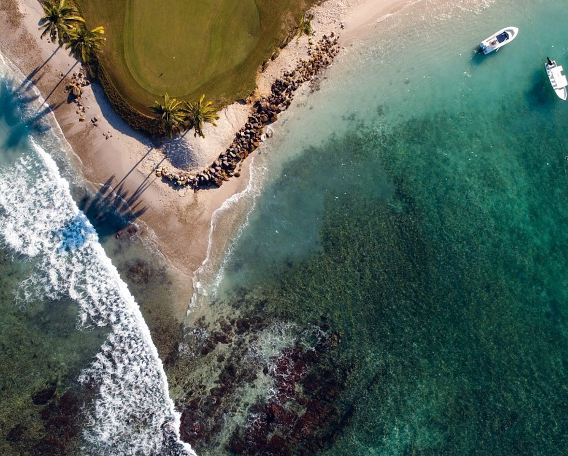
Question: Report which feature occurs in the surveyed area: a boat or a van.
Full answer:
The one in the frame is a boat.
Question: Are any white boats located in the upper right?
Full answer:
Yes, a white boat appears in the upper right.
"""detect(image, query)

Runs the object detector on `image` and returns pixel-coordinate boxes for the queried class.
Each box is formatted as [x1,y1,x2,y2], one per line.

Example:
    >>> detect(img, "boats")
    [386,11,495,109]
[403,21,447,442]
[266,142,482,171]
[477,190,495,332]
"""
[544,57,568,100]
[479,26,521,55]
